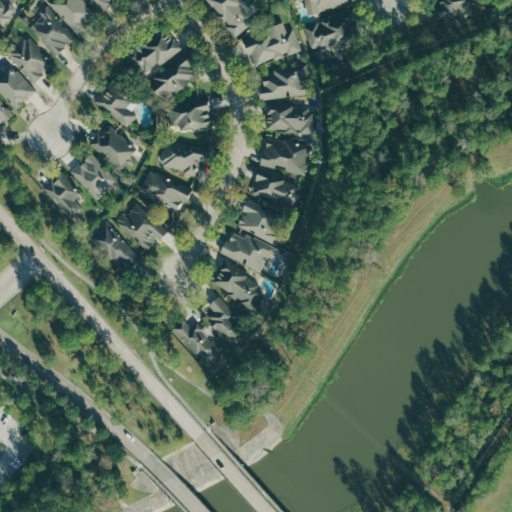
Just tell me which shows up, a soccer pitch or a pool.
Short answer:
pool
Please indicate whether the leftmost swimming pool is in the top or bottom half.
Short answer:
top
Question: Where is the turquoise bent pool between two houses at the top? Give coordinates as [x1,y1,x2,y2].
[296,6,320,25]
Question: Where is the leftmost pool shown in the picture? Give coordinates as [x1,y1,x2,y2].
[134,102,153,128]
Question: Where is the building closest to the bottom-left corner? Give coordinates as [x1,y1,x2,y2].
[170,317,218,358]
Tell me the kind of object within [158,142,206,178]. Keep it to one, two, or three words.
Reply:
house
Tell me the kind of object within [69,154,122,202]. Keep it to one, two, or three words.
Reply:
house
